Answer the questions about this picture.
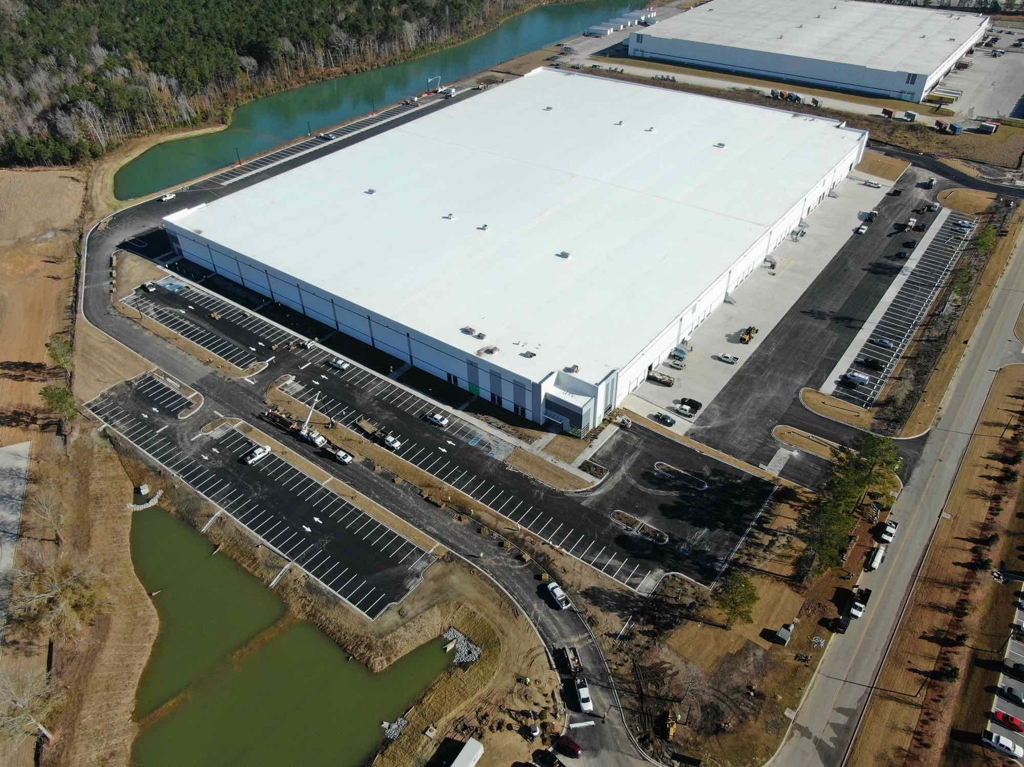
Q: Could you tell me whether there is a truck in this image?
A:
Yes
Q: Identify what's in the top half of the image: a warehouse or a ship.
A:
warehouse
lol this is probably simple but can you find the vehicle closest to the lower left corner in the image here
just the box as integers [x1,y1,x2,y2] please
[244,444,270,462]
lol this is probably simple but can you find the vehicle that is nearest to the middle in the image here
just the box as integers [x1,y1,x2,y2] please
[425,410,449,424]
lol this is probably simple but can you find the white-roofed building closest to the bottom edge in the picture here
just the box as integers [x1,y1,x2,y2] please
[161,67,871,438]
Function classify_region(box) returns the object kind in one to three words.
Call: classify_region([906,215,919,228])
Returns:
vehicle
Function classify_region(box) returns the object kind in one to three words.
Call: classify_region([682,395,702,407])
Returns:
vehicle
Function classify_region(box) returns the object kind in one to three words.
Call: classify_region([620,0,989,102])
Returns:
building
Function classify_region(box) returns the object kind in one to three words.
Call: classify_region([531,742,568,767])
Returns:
truck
